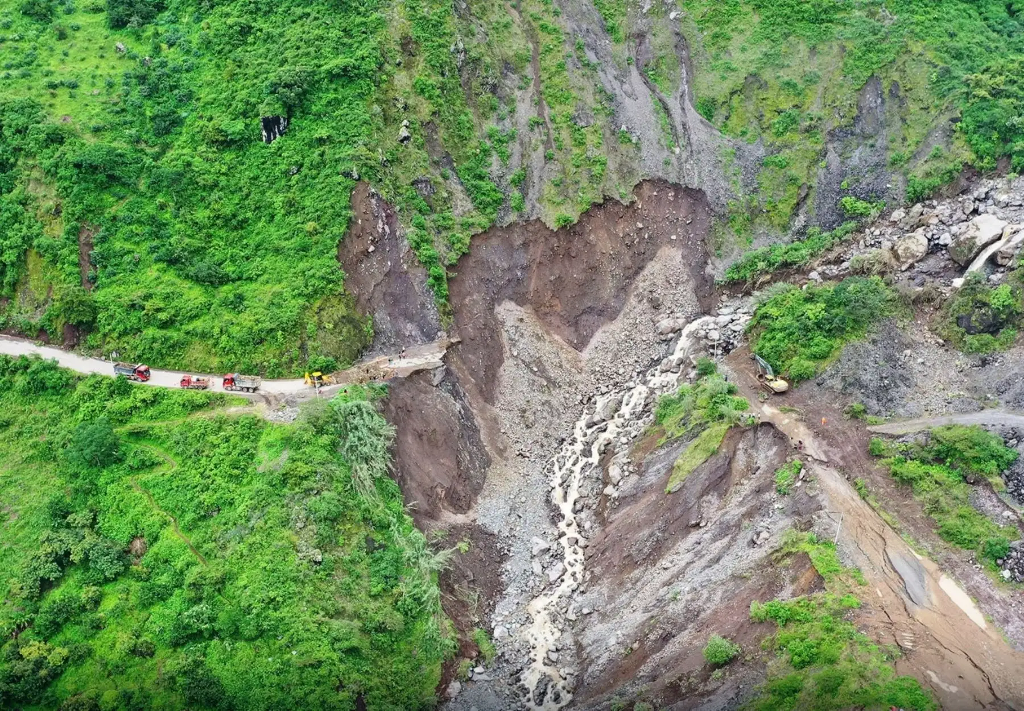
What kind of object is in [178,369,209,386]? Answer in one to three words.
vehicle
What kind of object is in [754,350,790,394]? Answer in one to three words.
work vehicle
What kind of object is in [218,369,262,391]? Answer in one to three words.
truck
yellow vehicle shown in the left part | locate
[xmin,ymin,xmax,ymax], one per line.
[302,370,338,389]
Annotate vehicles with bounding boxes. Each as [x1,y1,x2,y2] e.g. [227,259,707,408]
[218,369,262,391]
[109,360,152,381]
[302,370,338,389]
[178,369,209,386]
[754,350,790,394]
